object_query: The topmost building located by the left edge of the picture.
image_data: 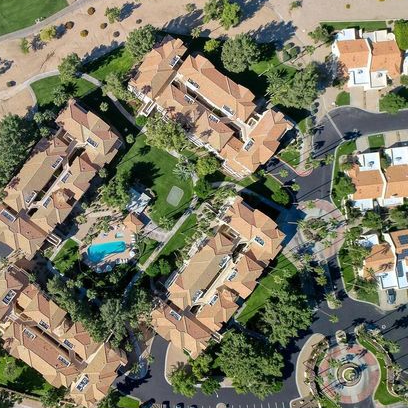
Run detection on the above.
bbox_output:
[0,96,122,262]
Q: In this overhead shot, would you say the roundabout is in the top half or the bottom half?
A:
bottom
